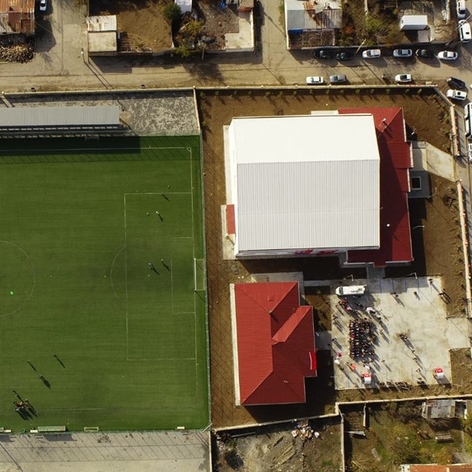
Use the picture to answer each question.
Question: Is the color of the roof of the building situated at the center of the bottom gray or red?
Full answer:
The roof of the building situated at the center of the bottom is red.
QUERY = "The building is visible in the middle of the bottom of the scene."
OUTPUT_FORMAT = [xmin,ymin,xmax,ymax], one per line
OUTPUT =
[234,281,316,405]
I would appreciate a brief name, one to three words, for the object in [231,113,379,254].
building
